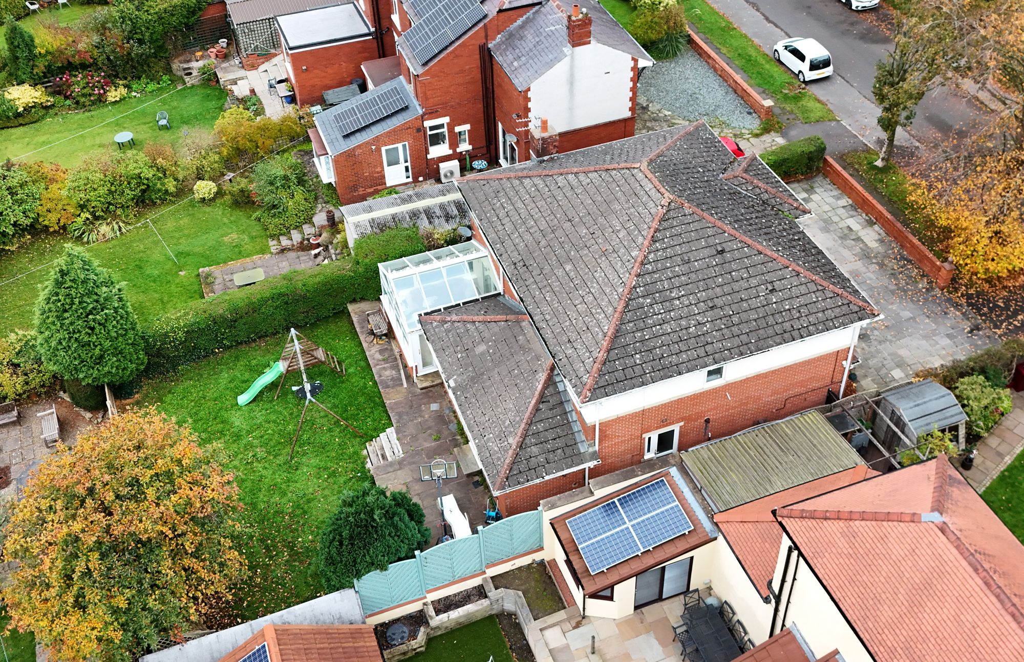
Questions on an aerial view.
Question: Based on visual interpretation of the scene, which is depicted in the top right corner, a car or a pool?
car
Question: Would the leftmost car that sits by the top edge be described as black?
No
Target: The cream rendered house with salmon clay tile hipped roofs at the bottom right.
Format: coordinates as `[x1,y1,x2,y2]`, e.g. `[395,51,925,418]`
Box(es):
[541,451,1024,662]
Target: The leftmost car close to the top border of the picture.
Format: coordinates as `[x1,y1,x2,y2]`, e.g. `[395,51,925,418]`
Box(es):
[772,33,836,83]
